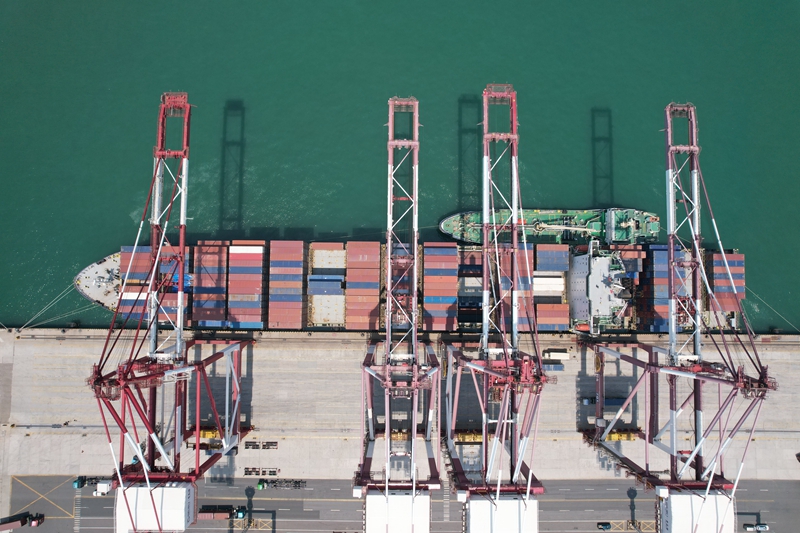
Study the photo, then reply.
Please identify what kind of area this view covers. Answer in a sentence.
This image shows a port.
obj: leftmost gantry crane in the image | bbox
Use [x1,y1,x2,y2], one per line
[85,87,266,533]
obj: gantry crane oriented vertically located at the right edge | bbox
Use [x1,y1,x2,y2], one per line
[570,100,773,533]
